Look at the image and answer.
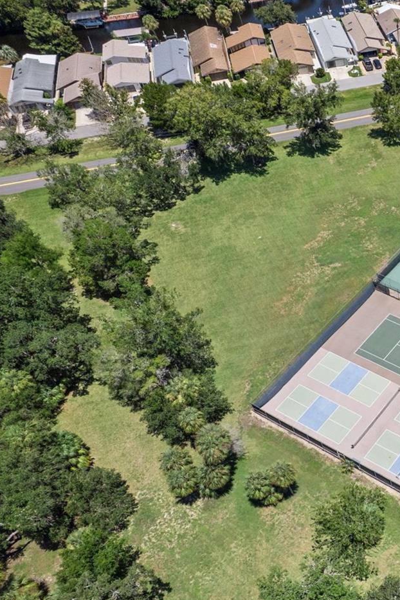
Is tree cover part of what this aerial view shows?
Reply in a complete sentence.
Yes, there is tree cover in the image.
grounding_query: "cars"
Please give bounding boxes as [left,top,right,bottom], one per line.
[372,56,383,67]
[362,55,373,68]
